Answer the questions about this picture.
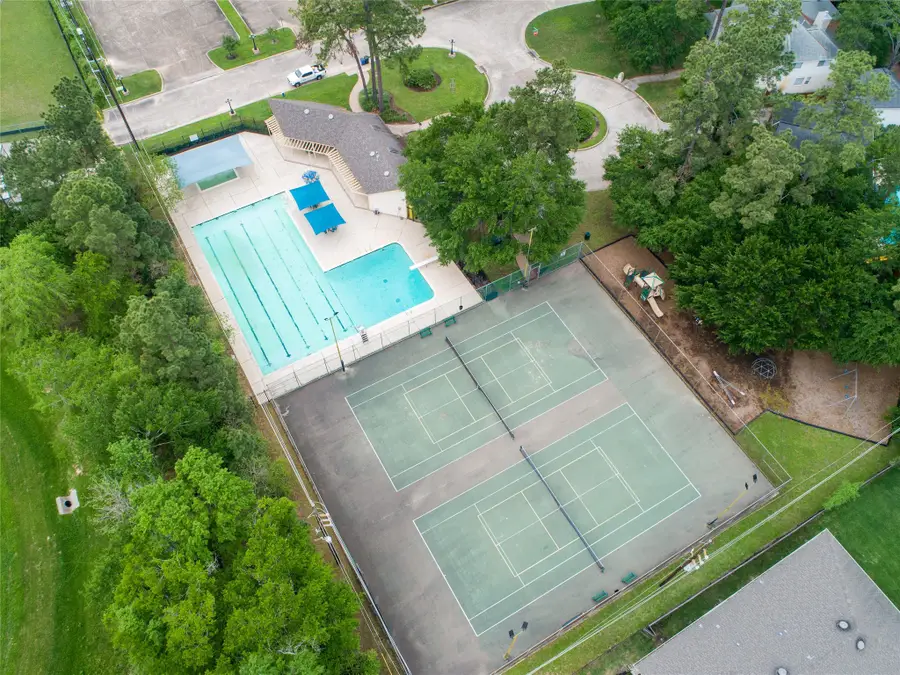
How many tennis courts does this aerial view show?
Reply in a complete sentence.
There are 2 tennis courts in the image.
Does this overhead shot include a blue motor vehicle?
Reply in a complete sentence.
No, no blue motor vehicle can be seen from above.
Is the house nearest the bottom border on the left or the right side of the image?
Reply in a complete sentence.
The house nearest the bottom border appears in the right half of the scene.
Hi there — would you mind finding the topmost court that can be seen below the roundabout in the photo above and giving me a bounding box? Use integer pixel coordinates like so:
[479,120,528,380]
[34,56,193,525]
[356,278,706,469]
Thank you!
[345,301,608,492]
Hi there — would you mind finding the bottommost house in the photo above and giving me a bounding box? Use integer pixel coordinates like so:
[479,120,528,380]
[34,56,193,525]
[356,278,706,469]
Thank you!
[628,532,900,675]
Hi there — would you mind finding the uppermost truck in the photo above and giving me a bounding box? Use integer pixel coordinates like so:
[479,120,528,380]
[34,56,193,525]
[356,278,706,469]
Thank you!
[284,61,329,85]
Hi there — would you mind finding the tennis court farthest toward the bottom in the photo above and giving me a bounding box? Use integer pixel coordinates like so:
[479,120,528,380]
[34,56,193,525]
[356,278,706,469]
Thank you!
[413,402,702,636]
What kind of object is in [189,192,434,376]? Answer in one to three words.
swimming pool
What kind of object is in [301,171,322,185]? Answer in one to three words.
umbrella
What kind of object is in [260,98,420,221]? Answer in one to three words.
building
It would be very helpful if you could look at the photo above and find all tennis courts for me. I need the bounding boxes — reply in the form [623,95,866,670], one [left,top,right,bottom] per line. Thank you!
[413,402,702,636]
[345,301,608,492]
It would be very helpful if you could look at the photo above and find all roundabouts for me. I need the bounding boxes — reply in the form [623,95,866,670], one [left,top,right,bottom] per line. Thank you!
[555,105,606,152]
